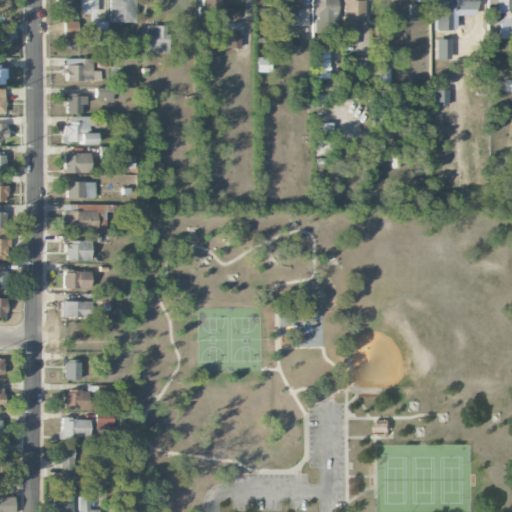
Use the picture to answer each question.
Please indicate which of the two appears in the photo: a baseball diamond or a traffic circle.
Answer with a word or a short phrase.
baseball diamond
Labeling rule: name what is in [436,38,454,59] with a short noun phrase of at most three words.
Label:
building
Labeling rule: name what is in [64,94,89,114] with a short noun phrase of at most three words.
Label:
house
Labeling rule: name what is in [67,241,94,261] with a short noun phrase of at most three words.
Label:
house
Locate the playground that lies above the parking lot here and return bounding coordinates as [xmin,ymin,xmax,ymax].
[281,289,329,347]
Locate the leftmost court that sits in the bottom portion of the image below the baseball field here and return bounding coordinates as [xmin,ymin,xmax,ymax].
[378,445,410,512]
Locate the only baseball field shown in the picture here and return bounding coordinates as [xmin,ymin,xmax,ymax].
[350,331,404,388]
